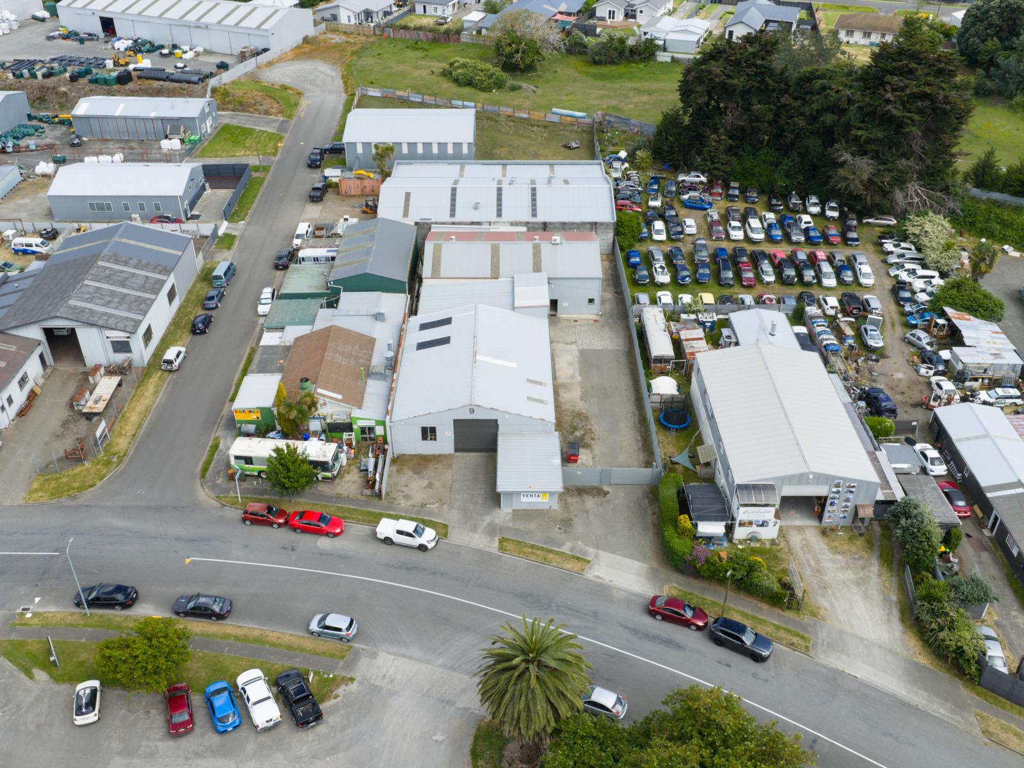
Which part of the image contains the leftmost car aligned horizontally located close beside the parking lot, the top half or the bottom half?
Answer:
bottom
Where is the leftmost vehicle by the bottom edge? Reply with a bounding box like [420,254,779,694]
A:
[70,678,103,732]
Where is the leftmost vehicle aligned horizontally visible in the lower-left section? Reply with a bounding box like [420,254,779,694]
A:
[73,583,140,611]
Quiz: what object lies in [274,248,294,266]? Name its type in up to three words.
car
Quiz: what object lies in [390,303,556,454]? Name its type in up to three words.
building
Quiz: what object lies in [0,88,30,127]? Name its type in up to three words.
shed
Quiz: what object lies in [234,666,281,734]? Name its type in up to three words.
truck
